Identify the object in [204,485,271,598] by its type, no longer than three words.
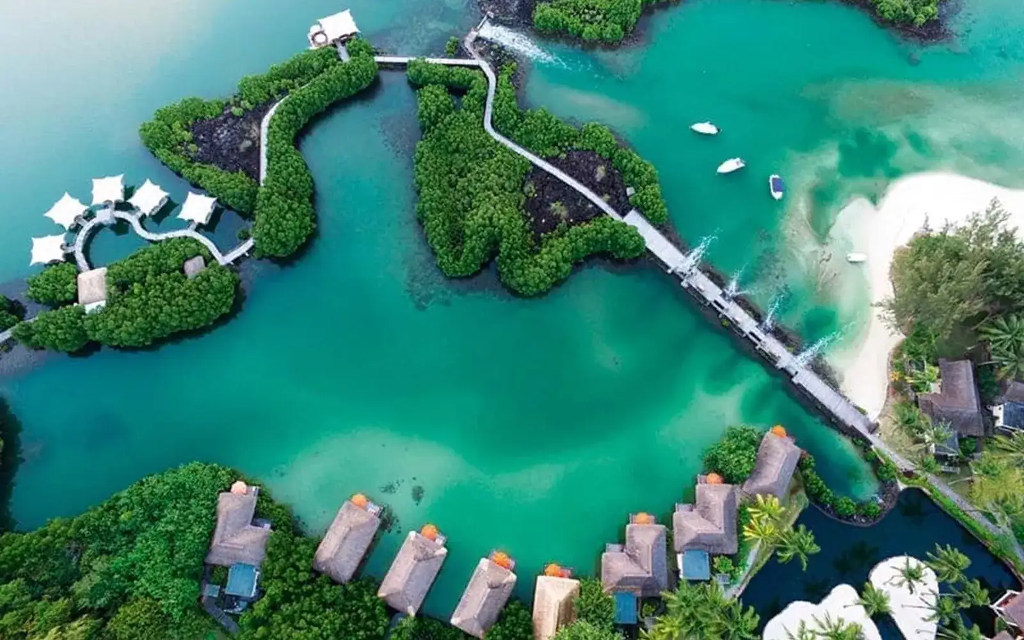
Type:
house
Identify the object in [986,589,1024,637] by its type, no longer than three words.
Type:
house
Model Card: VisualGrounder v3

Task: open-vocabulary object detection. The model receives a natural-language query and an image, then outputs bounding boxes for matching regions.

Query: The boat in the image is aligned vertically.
[769,172,783,200]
